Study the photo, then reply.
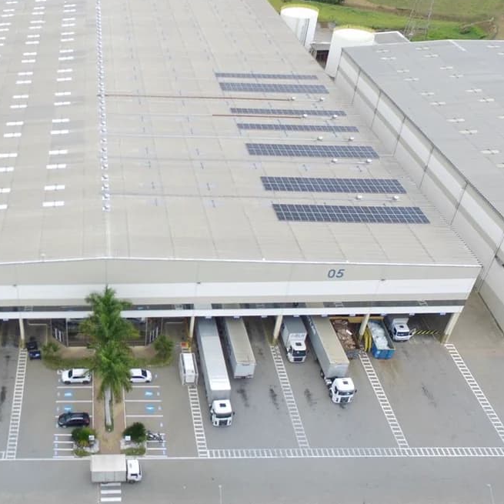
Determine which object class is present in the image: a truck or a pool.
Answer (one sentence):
Visible in the photo is a truck.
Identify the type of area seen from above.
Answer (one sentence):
This looks like an industrial area.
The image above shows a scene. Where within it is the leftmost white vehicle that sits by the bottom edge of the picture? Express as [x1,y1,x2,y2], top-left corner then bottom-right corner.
[94,452,149,484]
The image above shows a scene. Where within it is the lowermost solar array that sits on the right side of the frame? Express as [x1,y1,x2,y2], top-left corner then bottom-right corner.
[271,203,430,223]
